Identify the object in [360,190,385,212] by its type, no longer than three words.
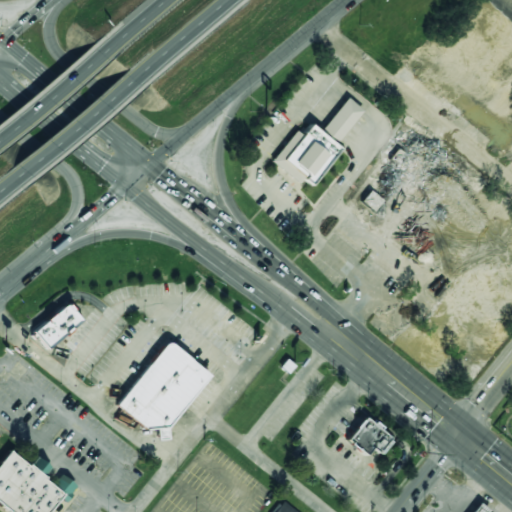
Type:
building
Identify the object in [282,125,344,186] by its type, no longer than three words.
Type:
building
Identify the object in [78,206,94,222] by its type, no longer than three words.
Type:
vehicle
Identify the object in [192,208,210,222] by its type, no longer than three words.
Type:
vehicle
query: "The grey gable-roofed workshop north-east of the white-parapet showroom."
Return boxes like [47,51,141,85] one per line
[322,99,366,141]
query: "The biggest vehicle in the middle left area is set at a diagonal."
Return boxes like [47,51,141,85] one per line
[50,234,77,254]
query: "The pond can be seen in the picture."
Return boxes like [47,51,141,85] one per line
[454,92,512,162]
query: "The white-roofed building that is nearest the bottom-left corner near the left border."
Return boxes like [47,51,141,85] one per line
[0,450,64,512]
